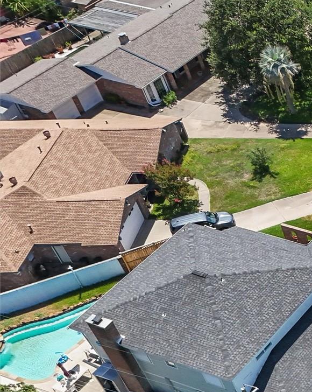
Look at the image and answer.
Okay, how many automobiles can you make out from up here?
one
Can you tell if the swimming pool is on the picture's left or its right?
left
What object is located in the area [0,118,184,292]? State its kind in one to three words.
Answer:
house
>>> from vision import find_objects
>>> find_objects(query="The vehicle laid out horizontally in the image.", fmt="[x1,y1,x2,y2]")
[169,206,231,233]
